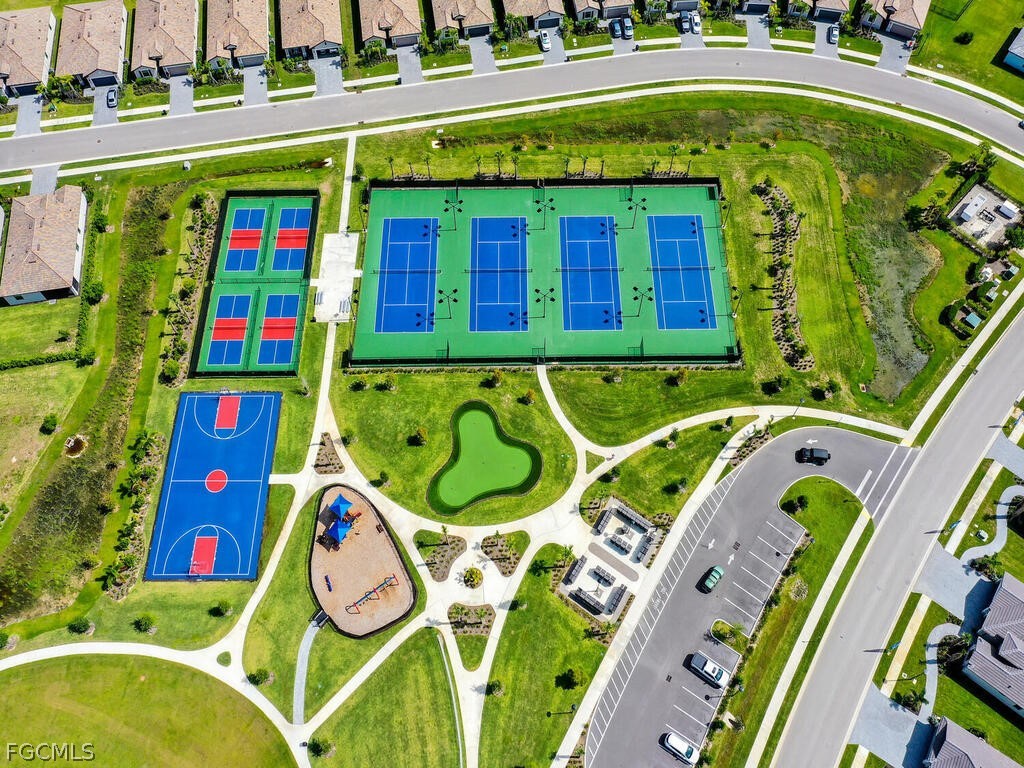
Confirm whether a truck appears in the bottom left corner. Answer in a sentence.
No, in the bottom left corner there is no truck.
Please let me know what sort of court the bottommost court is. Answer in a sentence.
From above, the bottommost court can be identified as a basketball court.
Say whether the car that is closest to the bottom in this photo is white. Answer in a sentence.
Yes, the car that is closest to the bottom appears white.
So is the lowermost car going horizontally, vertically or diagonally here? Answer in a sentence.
Seen from above, the lowermost car lies diagonally.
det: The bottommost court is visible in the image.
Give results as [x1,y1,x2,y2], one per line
[142,391,284,582]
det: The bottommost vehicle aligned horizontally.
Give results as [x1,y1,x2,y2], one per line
[797,447,834,462]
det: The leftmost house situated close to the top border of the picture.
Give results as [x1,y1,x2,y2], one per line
[0,6,55,99]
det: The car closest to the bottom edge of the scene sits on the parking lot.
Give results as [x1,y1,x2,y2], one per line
[665,731,702,765]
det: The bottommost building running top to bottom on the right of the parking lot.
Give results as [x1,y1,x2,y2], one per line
[958,571,1024,712]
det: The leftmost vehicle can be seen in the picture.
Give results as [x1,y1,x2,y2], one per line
[105,87,117,106]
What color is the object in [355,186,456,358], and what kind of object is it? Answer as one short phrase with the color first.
green tennis court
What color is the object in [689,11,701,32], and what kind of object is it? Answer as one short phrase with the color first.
white vehicle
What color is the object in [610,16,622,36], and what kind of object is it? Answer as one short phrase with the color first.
blue vehicle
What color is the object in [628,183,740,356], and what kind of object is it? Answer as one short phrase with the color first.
green tennis court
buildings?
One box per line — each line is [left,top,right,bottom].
[131,0,198,81]
[920,716,1024,768]
[56,0,126,85]
[1005,33,1024,72]
[865,0,934,37]
[207,0,268,71]
[501,0,565,26]
[713,0,774,13]
[358,0,421,52]
[958,571,1024,712]
[432,0,494,40]
[785,0,849,20]
[0,6,55,99]
[0,185,86,305]
[280,0,342,57]
[641,0,698,17]
[571,0,634,24]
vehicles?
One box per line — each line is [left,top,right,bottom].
[689,11,701,32]
[830,22,841,42]
[693,651,731,686]
[539,26,551,49]
[105,87,117,106]
[679,6,691,30]
[665,731,702,765]
[610,16,622,36]
[797,447,834,462]
[621,10,634,37]
[704,563,724,590]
